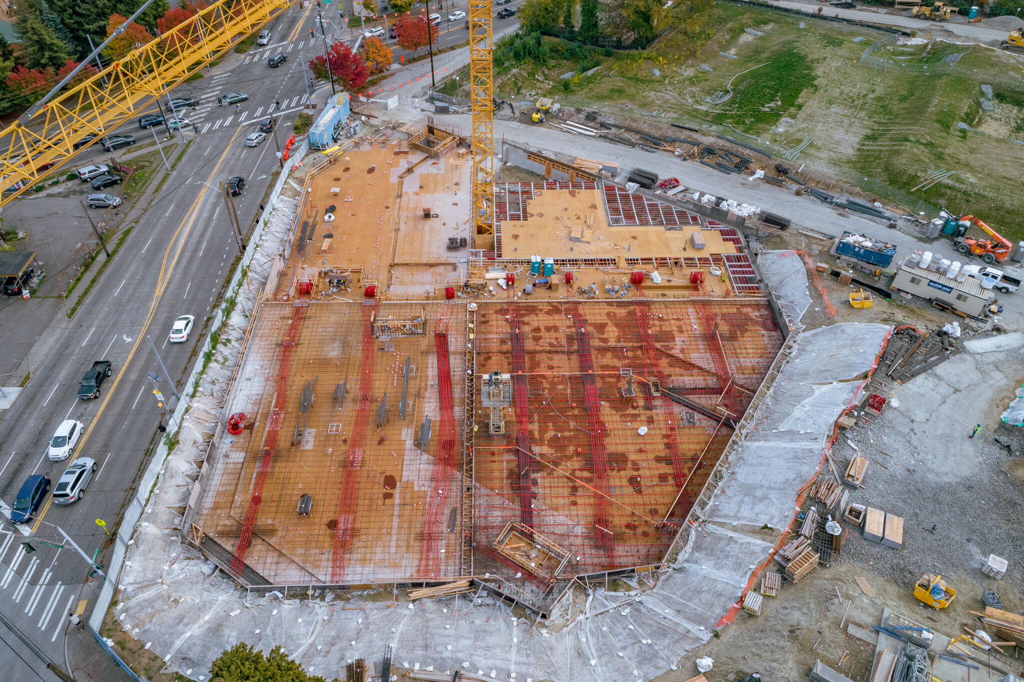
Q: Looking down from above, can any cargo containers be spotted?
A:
Yes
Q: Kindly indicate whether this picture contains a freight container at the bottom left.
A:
No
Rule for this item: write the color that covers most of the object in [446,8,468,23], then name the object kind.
white car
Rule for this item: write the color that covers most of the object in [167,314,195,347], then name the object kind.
white car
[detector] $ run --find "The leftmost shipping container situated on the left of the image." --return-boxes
[306,92,361,148]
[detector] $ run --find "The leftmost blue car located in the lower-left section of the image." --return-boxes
[12,477,50,523]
